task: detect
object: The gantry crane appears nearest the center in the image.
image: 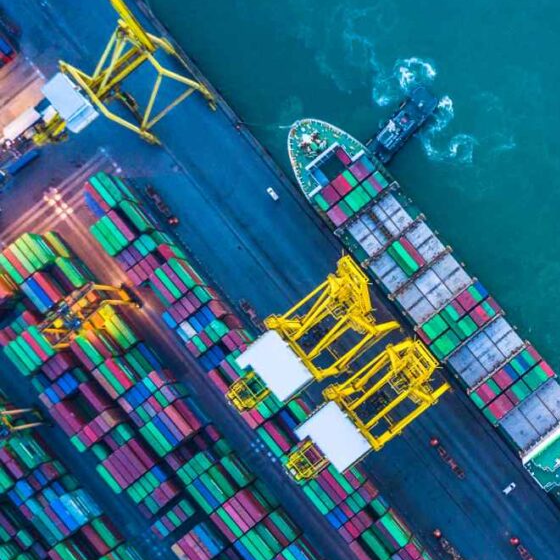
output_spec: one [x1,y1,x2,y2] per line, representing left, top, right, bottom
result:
[220,246,405,414]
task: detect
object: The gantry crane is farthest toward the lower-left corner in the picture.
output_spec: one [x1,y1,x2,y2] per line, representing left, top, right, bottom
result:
[0,404,48,434]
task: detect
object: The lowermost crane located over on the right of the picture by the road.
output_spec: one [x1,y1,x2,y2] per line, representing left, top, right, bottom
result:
[280,333,456,487]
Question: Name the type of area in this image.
port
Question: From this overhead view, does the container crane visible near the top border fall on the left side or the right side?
left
